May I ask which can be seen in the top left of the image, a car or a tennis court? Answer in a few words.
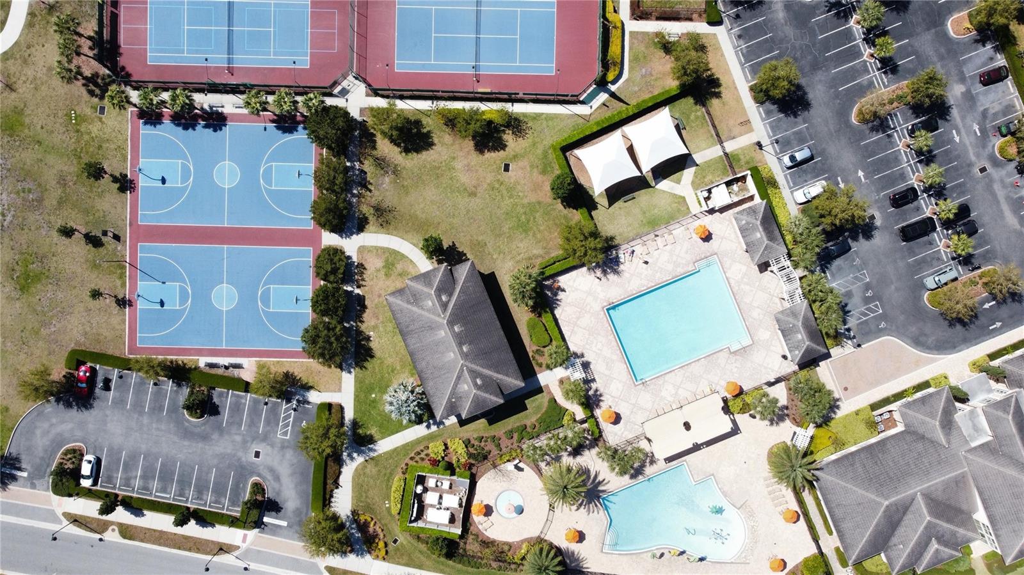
tennis court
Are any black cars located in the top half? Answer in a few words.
Yes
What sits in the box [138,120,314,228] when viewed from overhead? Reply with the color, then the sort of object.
blue basketball court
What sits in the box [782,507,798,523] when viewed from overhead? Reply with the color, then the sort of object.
orange umbrella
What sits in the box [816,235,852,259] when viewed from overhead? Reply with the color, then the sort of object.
black car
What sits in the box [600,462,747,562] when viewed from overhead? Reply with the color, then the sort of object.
white swimming pool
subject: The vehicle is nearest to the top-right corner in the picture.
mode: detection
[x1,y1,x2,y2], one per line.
[975,65,1010,87]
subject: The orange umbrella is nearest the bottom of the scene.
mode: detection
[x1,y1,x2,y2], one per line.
[769,555,785,572]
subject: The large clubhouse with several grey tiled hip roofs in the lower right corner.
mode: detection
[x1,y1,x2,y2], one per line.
[808,348,1024,575]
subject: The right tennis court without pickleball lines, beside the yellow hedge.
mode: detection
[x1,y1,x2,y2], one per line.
[358,0,600,98]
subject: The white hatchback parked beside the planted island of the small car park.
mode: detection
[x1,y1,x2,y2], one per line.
[82,454,100,486]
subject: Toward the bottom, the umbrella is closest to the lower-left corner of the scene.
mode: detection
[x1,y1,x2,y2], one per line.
[470,501,485,517]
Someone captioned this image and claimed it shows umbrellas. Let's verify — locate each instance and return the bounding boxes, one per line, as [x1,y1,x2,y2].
[723,379,739,395]
[470,501,485,517]
[782,507,798,523]
[564,526,580,543]
[693,222,709,238]
[600,409,615,424]
[769,555,785,572]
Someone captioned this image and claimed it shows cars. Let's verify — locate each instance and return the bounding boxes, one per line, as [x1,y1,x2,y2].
[82,454,100,486]
[975,65,1010,87]
[943,218,978,240]
[885,187,918,208]
[779,146,814,169]
[896,216,935,241]
[74,363,94,396]
[903,115,939,138]
[792,179,828,203]
[816,235,852,259]
[934,203,974,227]
[921,264,960,288]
